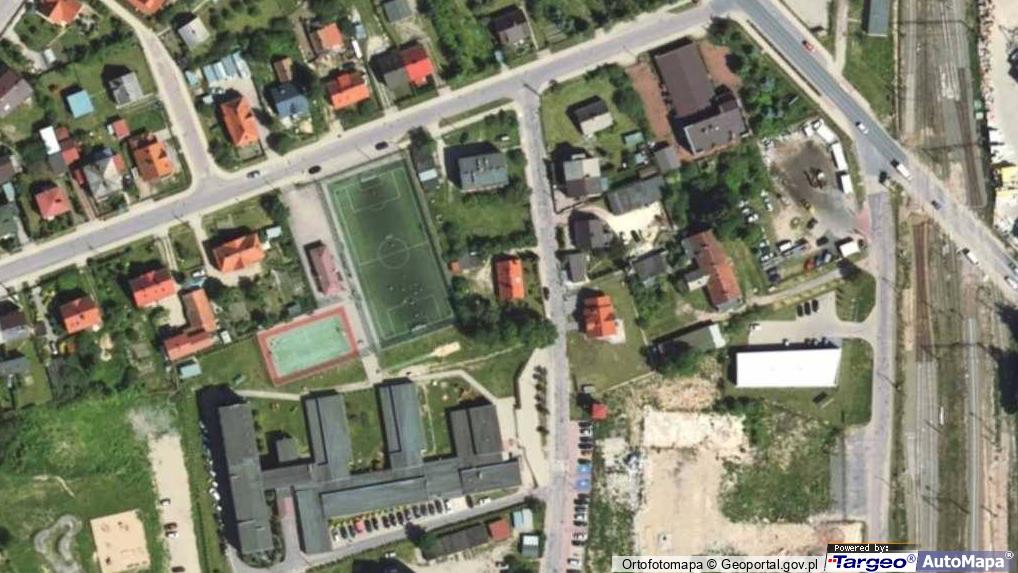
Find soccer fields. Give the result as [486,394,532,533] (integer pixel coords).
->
[328,158,453,348]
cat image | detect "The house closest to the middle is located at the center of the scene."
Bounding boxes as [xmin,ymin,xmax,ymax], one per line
[495,258,525,301]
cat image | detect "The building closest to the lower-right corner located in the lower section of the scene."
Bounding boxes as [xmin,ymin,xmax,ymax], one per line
[737,349,839,388]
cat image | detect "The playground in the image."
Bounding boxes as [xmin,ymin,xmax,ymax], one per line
[91,509,151,573]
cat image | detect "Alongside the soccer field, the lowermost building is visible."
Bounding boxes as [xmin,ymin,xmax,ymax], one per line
[219,381,522,553]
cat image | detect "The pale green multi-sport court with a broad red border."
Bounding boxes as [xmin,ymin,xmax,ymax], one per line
[257,307,359,385]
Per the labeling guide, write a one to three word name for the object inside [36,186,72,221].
house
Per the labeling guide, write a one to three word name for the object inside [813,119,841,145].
truck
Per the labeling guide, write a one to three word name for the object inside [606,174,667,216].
barn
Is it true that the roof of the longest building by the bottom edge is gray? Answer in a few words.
Yes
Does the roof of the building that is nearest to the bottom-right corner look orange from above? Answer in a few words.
No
